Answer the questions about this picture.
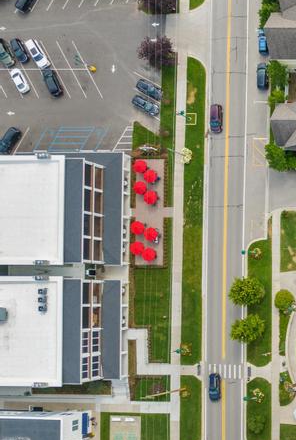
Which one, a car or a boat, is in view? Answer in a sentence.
The one in the frame is a car.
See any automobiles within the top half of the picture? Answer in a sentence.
Yes, an automobile is visible within the top half of the picture.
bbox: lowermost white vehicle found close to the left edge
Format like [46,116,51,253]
[8,67,31,94]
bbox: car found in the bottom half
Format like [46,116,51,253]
[207,373,222,401]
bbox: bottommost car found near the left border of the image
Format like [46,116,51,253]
[0,128,24,154]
